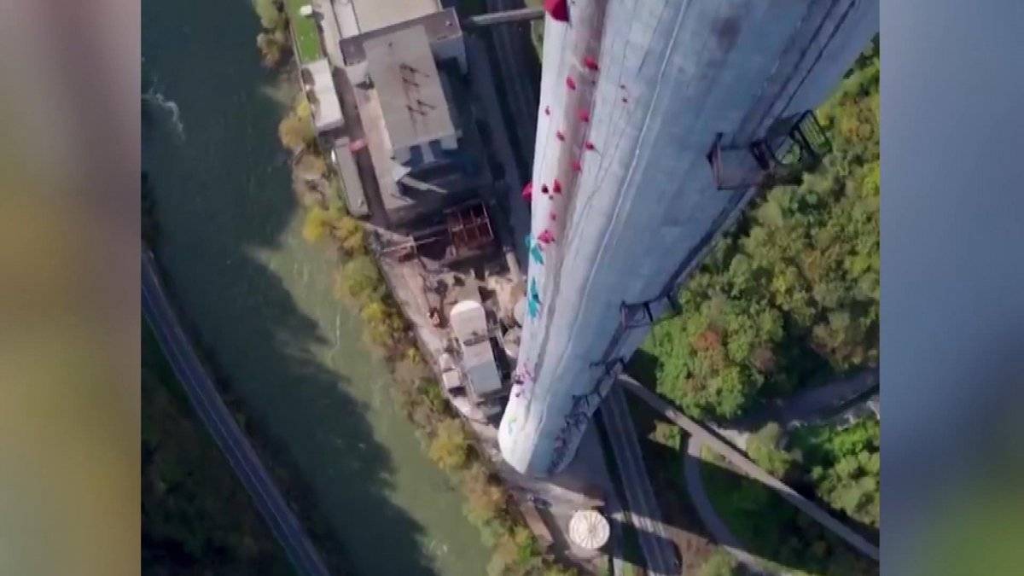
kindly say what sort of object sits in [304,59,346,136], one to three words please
building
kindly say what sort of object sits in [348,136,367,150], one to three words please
vehicle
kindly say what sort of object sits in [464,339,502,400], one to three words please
house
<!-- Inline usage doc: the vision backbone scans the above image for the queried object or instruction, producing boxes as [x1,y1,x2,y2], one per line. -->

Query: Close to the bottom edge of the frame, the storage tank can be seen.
[568,509,609,550]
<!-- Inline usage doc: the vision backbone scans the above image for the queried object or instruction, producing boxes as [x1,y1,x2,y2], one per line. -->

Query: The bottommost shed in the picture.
[521,497,555,549]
